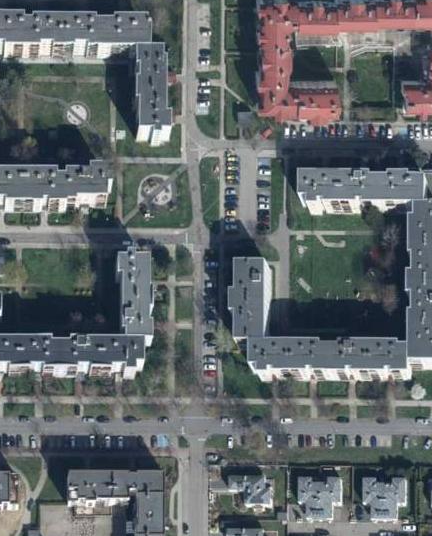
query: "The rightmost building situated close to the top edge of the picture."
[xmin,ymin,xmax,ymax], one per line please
[255,0,432,131]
